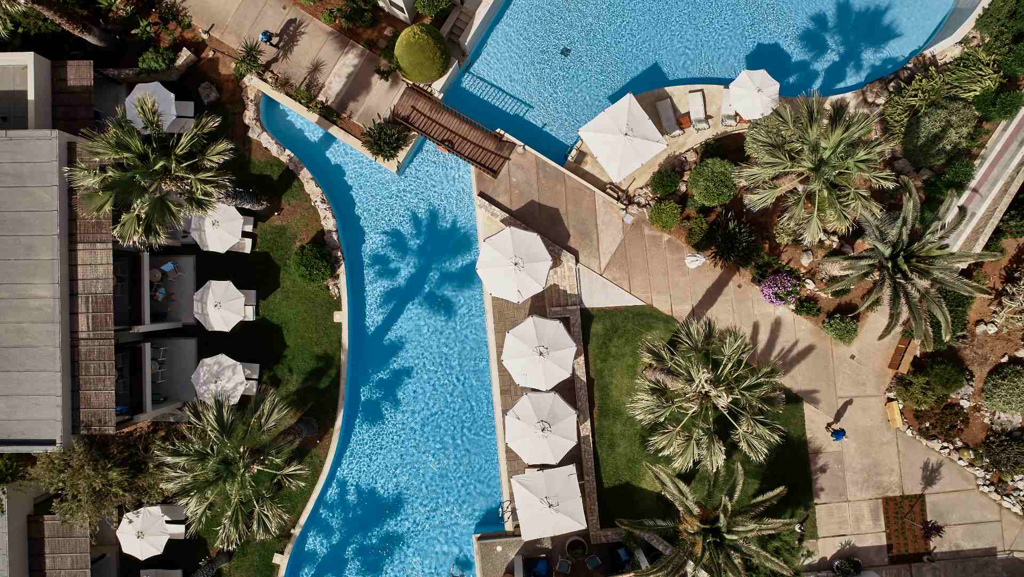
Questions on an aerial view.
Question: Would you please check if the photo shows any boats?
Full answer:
No, the scene contains no boat.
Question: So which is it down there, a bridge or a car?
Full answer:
There is a bridge in the scene.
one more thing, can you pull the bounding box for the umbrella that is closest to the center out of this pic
[474,225,553,303]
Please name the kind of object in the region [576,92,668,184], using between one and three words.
umbrella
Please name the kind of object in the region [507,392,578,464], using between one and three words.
umbrella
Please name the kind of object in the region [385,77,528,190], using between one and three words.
bridge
